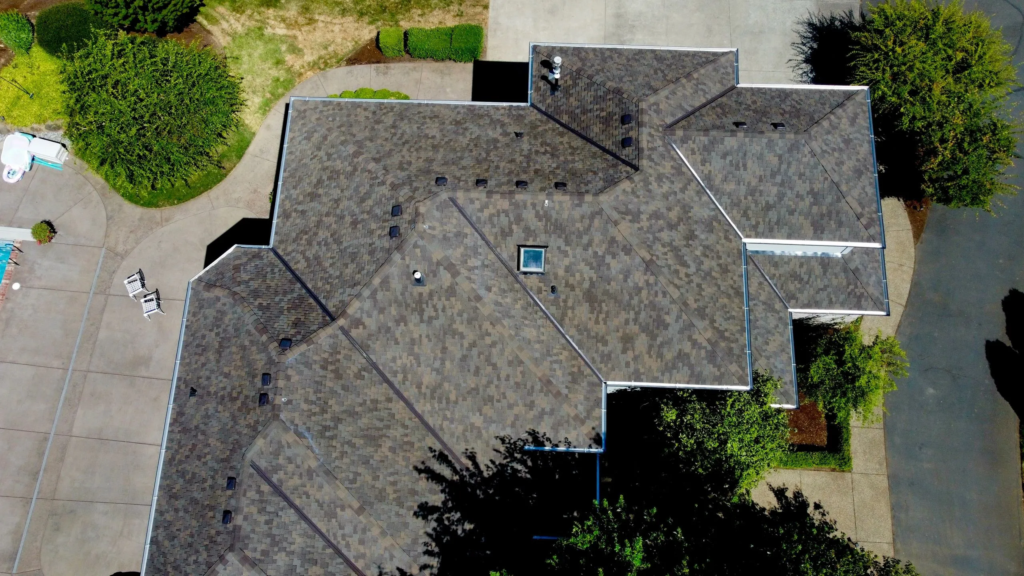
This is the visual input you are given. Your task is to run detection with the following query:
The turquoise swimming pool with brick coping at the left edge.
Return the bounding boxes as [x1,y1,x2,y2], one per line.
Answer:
[0,239,23,307]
